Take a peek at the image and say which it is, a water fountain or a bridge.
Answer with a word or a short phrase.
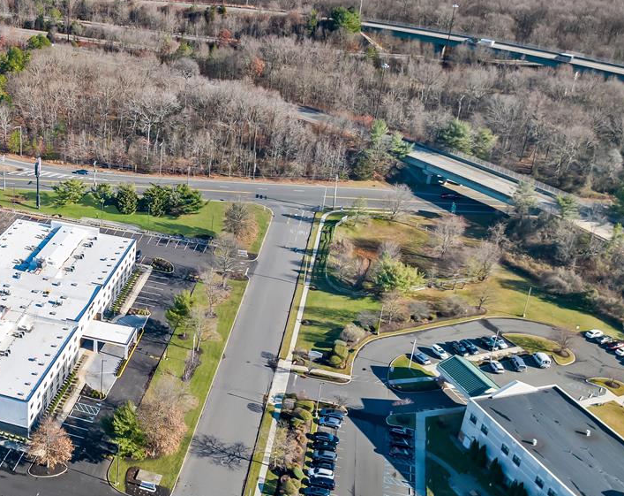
bridge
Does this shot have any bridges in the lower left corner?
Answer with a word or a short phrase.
No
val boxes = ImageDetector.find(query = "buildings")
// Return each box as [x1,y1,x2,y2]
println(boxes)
[460,371,624,496]
[0,218,137,436]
